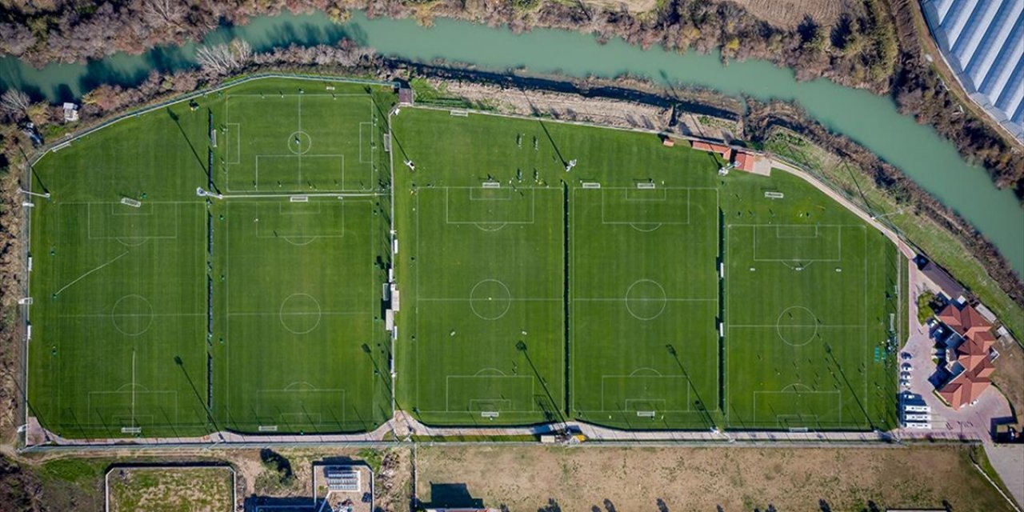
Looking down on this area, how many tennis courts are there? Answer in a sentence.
I count no tennis courts.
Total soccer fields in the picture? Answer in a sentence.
The photo contains 6 soccer fields.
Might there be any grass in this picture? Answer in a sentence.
Yes, grass shows up in the scene.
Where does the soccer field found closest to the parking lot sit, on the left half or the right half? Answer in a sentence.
The soccer field found closest to the parking lot appears in the right half of the scene.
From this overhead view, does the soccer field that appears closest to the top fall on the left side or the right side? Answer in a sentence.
The soccer field that appears closest to the top sits on the left side.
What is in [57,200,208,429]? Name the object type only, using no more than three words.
soccer field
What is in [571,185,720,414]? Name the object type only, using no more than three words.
soccer field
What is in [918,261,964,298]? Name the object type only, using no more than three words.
shed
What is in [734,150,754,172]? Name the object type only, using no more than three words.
shed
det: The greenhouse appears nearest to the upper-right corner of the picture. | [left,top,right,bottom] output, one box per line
[922,0,1024,138]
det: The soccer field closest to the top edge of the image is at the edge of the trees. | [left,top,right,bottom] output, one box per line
[225,92,375,194]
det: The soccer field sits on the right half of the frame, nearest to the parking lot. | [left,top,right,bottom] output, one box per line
[726,223,868,429]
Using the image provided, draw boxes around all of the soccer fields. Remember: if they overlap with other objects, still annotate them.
[225,92,375,194]
[571,185,720,414]
[415,185,565,414]
[57,200,208,429]
[225,198,375,428]
[726,223,868,429]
